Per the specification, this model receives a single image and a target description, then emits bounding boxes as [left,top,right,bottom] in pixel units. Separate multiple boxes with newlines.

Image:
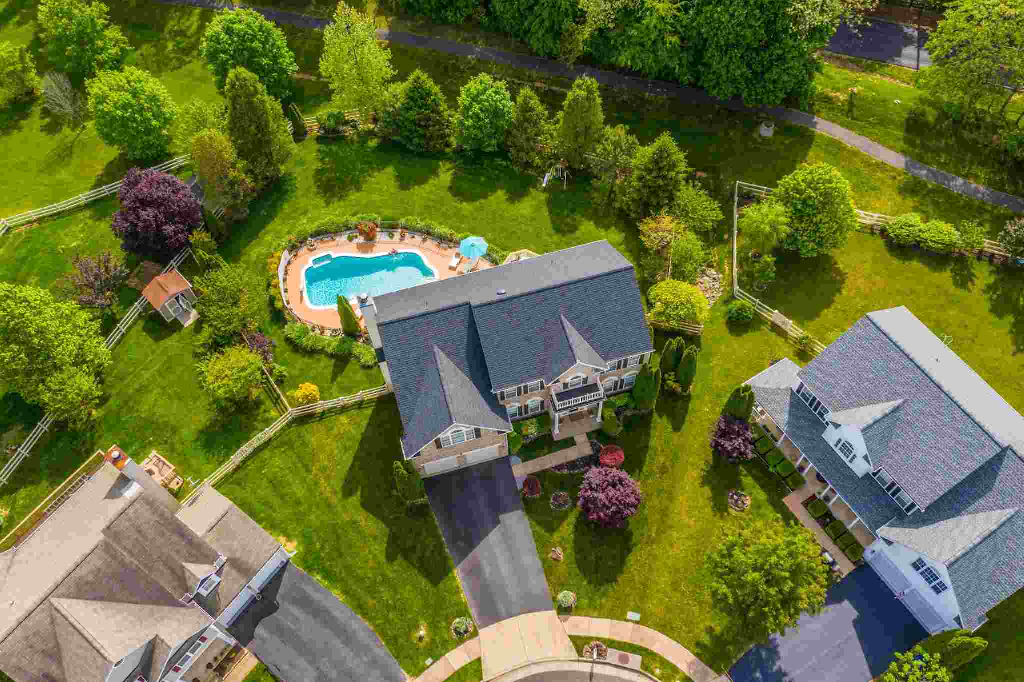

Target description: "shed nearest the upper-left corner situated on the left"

[138,270,194,325]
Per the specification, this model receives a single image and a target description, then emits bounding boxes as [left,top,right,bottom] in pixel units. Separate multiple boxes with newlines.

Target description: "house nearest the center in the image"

[359,237,658,477]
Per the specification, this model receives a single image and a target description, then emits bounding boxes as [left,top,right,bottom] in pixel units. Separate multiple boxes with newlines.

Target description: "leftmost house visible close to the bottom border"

[0,444,289,682]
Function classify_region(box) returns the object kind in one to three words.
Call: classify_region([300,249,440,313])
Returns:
swimming pool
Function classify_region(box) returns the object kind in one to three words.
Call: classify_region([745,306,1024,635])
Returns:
house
